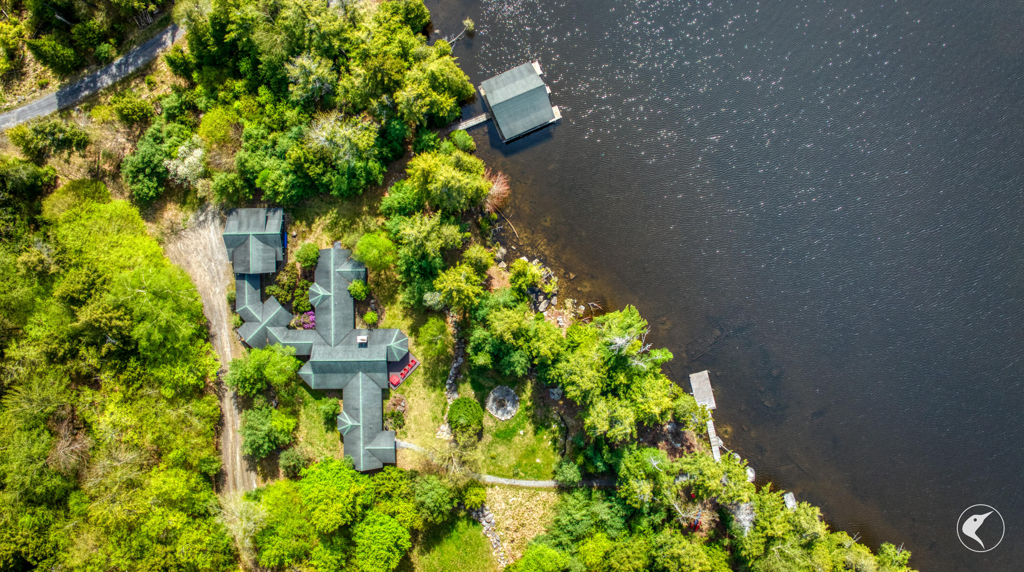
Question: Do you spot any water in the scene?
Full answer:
Yes, water shows up in the scene.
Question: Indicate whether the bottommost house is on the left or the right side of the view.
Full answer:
The bottommost house is on the left side of the image.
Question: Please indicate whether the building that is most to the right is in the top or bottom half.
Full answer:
The top half of the photo is where the building that is most to the right is.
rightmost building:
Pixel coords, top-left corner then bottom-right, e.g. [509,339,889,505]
[478,60,562,144]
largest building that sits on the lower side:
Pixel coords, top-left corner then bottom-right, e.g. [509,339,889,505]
[236,248,421,471]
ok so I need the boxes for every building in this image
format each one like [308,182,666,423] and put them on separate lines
[236,248,421,471]
[478,60,562,144]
